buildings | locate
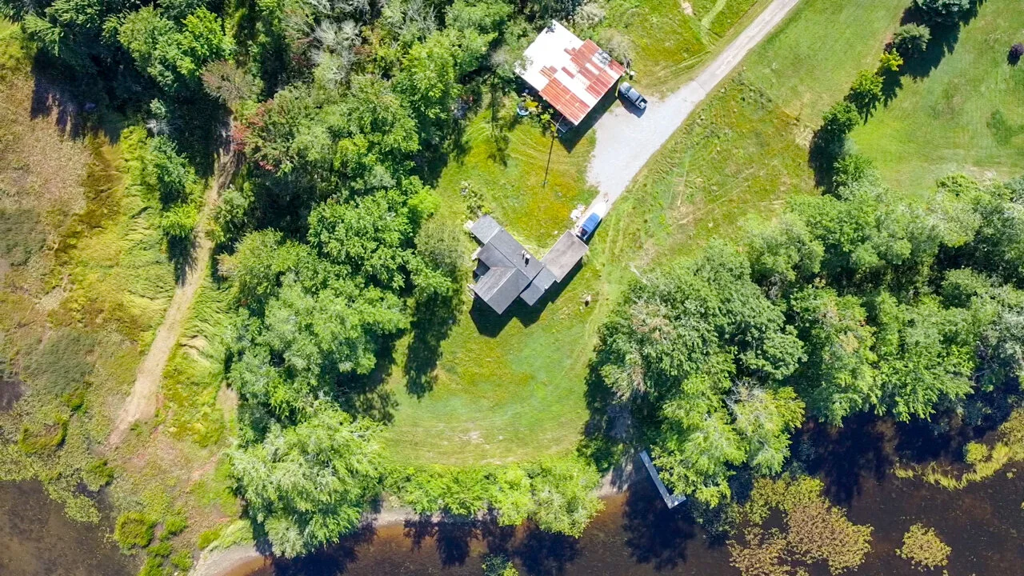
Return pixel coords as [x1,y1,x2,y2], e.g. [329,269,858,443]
[516,20,626,128]
[463,213,589,314]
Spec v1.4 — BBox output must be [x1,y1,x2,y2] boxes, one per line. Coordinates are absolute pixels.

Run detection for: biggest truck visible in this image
[618,81,649,113]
